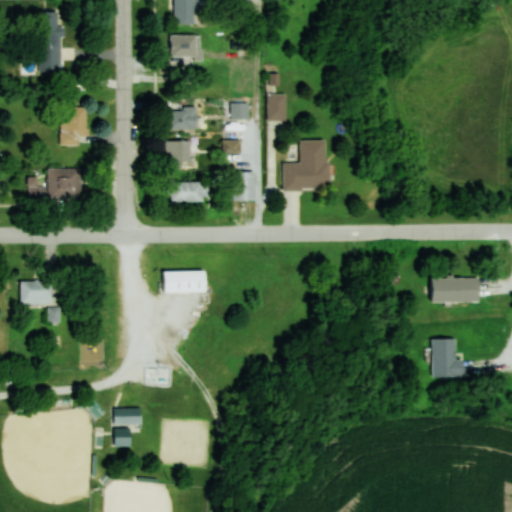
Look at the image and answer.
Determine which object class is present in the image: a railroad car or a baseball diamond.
baseball diamond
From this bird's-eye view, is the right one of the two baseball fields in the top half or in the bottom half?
bottom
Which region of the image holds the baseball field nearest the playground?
bottom left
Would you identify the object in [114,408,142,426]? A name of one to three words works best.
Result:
building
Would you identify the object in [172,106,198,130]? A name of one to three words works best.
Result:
house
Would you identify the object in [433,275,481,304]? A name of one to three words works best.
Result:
house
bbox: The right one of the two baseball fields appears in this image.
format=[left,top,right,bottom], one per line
[104,480,172,512]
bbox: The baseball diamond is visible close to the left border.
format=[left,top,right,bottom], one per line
[2,408,92,504]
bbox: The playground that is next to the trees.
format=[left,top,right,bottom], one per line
[79,340,105,369]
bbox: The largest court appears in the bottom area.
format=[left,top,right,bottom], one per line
[160,420,209,467]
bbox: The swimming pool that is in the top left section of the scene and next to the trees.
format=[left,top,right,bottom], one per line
[20,60,37,76]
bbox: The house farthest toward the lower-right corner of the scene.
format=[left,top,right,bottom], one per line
[432,339,467,378]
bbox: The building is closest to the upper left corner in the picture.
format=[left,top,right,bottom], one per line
[38,11,64,72]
